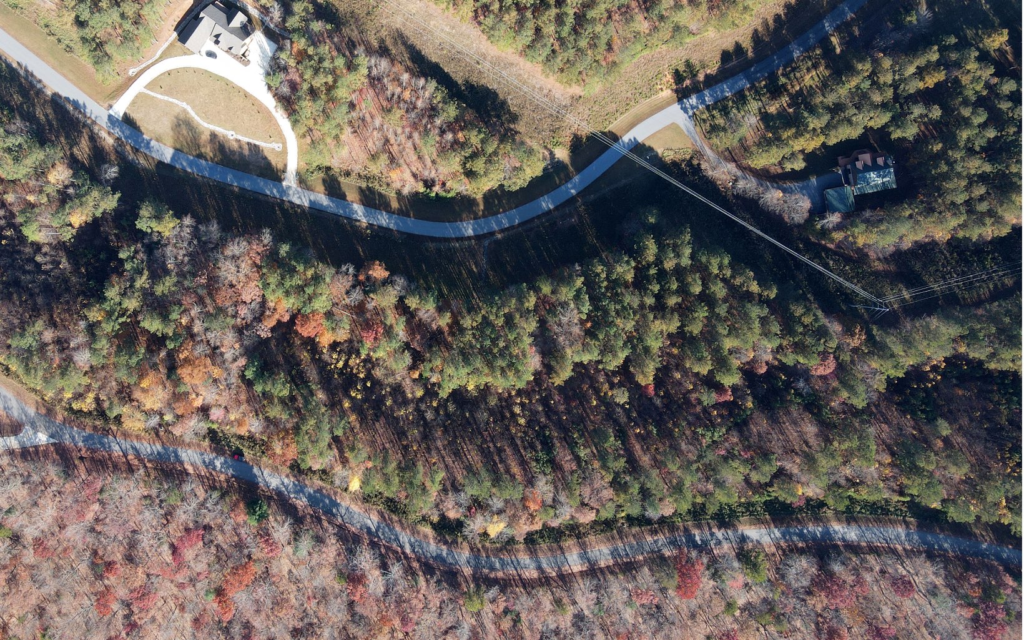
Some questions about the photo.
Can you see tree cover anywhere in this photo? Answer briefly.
Yes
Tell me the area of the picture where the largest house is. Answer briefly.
top left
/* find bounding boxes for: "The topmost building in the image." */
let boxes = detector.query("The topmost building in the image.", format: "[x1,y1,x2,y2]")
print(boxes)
[178,2,254,56]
